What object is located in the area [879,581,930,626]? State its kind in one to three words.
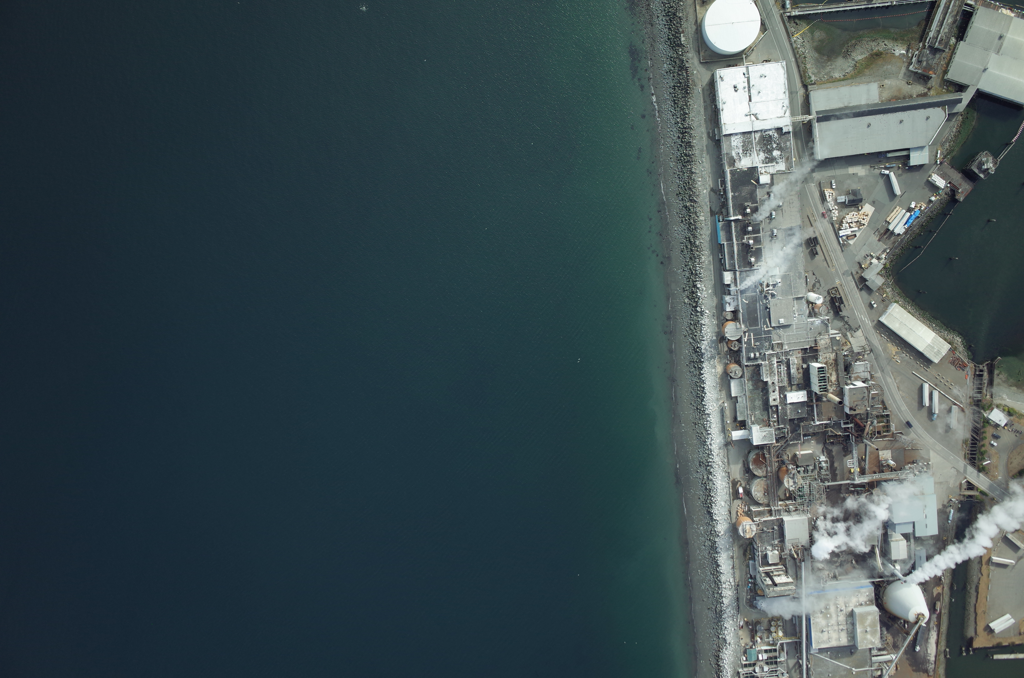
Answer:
silo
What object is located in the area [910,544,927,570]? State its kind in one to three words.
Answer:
building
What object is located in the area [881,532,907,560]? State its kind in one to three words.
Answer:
building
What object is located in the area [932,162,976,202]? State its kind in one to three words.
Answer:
pier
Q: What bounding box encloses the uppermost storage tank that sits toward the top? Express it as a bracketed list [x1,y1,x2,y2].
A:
[701,0,761,56]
